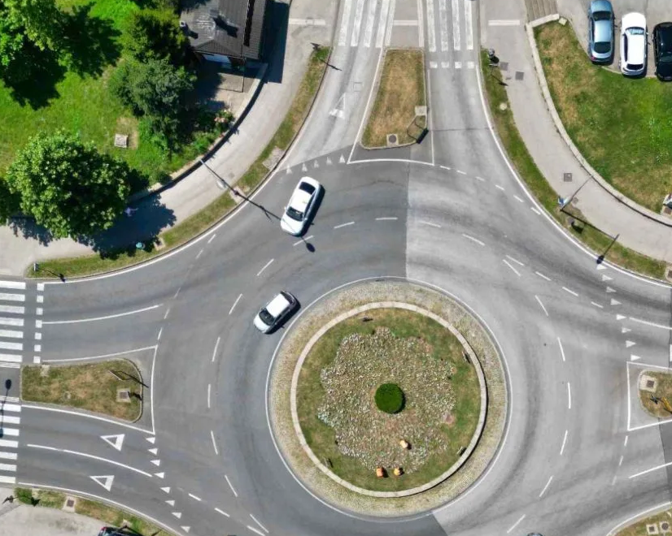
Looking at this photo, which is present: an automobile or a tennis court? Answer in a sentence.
The image shows an automobile.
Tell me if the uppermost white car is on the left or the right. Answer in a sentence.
It is on the right.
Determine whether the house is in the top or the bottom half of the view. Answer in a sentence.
The house sits in the top half of the picture.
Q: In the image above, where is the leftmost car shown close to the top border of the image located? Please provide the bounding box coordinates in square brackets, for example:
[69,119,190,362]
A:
[586,0,616,63]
